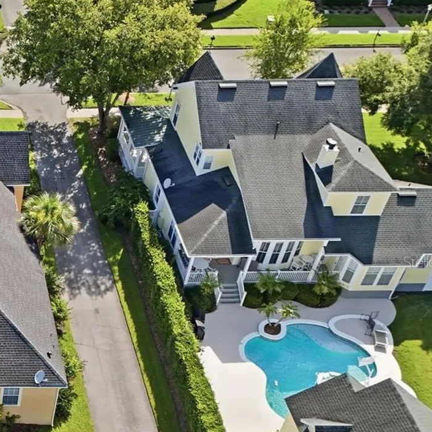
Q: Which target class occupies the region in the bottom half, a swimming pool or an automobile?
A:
swimming pool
